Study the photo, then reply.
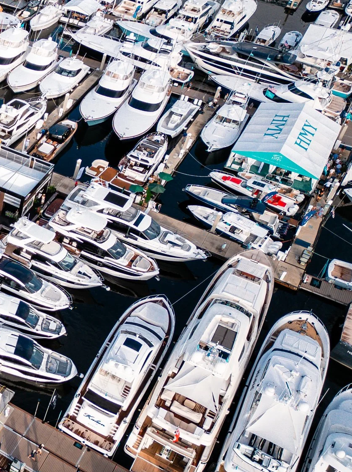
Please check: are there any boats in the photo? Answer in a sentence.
Yes, the image includes a boat.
